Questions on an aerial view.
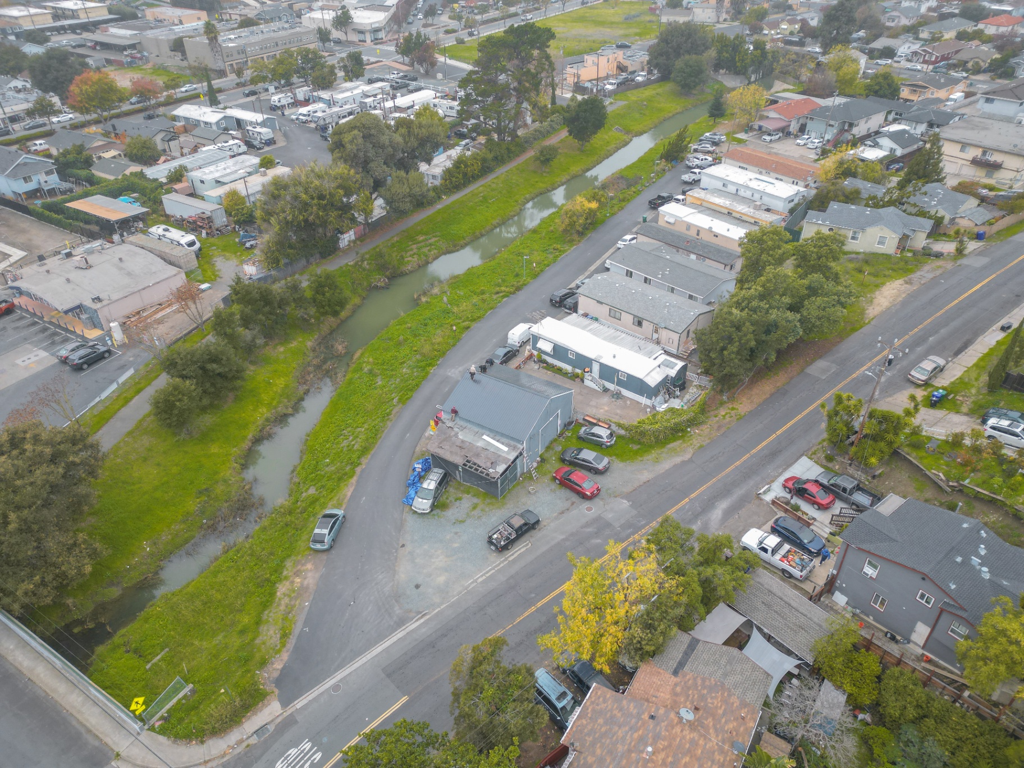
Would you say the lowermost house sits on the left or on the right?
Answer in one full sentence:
It is on the right.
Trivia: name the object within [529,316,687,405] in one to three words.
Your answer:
house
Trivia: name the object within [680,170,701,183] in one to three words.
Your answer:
vehicle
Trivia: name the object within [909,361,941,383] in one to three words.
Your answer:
car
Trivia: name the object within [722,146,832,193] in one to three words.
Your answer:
house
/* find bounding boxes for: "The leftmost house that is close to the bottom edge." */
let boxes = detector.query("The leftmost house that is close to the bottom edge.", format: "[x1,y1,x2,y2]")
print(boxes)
[561,629,773,768]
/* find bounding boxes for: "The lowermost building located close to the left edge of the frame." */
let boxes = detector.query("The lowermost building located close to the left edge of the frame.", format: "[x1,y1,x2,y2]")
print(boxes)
[8,241,188,333]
